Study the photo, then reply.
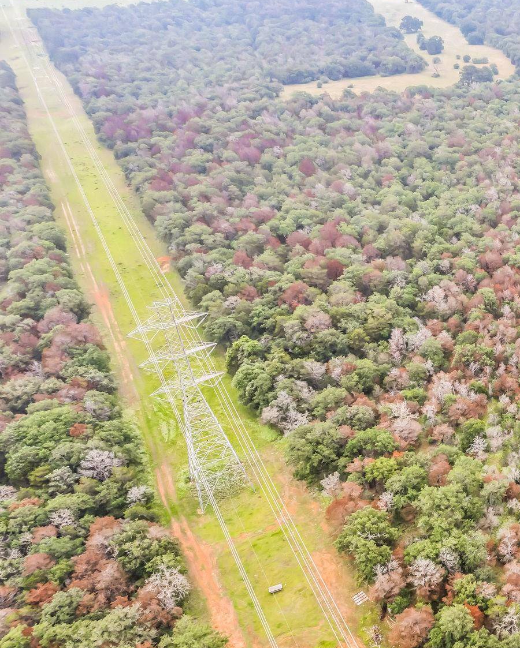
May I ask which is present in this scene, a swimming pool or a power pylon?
power pylon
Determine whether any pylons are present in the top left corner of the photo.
Yes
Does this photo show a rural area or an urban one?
rural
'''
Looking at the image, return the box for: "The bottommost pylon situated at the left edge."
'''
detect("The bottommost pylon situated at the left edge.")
[0,28,65,129]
